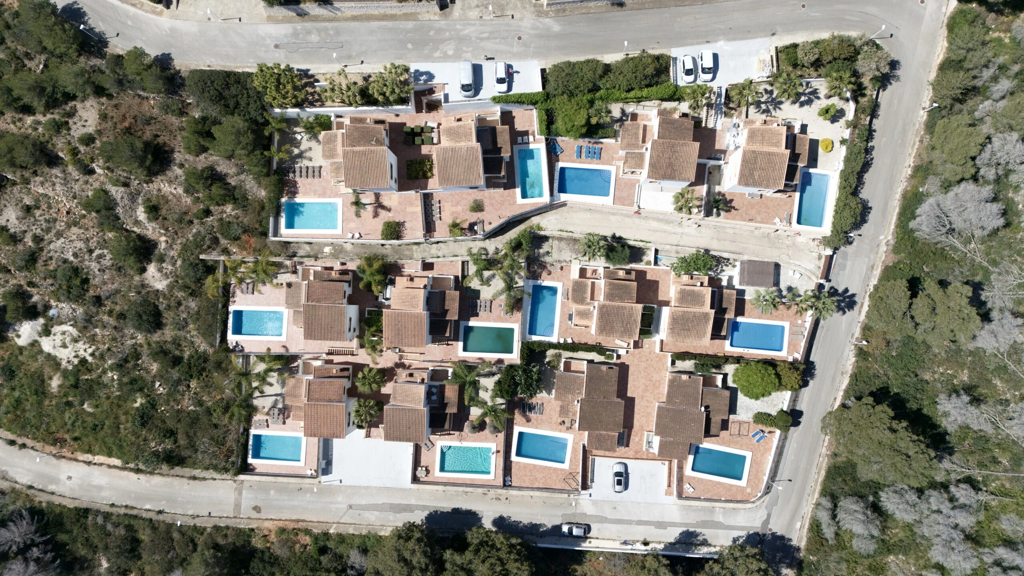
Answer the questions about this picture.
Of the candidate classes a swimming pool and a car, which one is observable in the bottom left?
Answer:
swimming pool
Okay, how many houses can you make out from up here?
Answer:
12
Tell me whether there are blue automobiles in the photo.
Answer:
No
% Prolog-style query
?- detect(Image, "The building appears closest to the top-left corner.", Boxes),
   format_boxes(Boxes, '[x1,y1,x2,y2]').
[321,114,396,194]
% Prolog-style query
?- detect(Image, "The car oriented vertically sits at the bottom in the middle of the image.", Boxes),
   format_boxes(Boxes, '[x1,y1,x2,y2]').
[612,462,626,493]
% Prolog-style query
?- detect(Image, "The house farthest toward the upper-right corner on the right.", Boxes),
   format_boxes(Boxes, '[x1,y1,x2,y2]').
[723,117,809,195]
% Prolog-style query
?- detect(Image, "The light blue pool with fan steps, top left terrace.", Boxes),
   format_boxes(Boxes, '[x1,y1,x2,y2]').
[281,198,342,234]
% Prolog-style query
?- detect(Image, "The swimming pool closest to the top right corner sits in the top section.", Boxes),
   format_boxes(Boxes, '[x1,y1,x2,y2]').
[792,168,837,231]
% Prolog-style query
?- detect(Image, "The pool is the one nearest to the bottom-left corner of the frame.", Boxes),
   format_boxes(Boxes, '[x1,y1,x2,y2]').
[248,430,306,466]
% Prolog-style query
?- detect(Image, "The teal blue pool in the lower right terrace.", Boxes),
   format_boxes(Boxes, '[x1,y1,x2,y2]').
[686,443,753,487]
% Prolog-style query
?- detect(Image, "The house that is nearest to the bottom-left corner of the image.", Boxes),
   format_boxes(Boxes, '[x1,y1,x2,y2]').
[284,358,357,439]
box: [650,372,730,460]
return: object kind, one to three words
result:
house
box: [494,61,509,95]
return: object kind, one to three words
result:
car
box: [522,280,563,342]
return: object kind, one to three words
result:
swimming pool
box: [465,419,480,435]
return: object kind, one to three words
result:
umbrella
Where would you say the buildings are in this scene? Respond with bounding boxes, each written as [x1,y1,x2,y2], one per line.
[650,372,730,460]
[554,356,625,452]
[723,117,809,195]
[384,365,458,444]
[618,107,700,188]
[435,112,511,193]
[285,267,358,341]
[570,266,644,340]
[284,358,357,439]
[321,114,396,194]
[657,273,736,346]
[736,260,775,288]
[382,276,459,348]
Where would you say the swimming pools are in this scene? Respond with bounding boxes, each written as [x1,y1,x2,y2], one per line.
[435,441,496,480]
[458,321,519,358]
[553,162,616,204]
[522,280,563,342]
[686,443,753,487]
[725,318,790,356]
[227,306,288,341]
[281,198,342,234]
[511,426,574,469]
[248,430,306,466]
[513,144,548,204]
[792,168,837,231]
